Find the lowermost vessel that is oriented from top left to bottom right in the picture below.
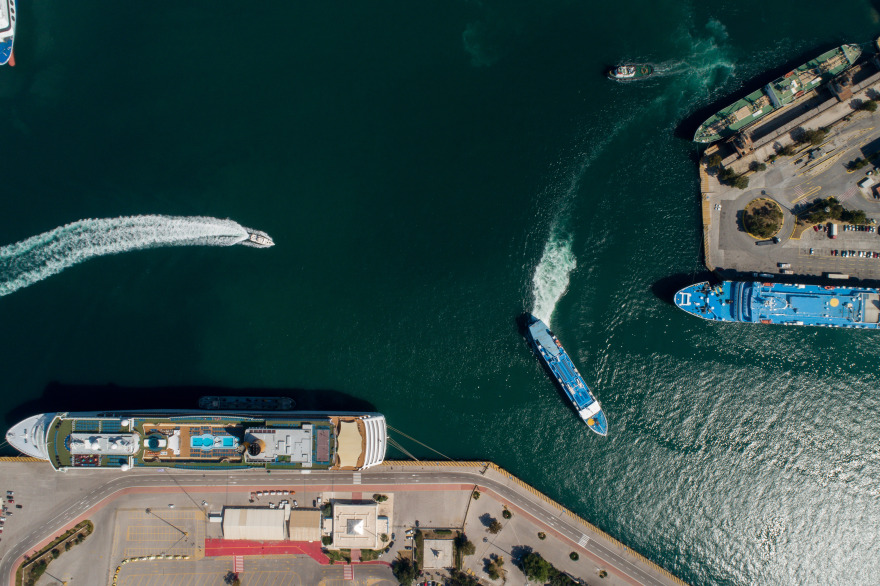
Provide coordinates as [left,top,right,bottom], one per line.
[524,318,608,436]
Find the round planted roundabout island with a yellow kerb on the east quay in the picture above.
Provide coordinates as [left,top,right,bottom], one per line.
[743,198,784,240]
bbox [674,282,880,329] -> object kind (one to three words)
ship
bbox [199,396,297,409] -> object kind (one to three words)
ship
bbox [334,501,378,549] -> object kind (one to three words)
building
